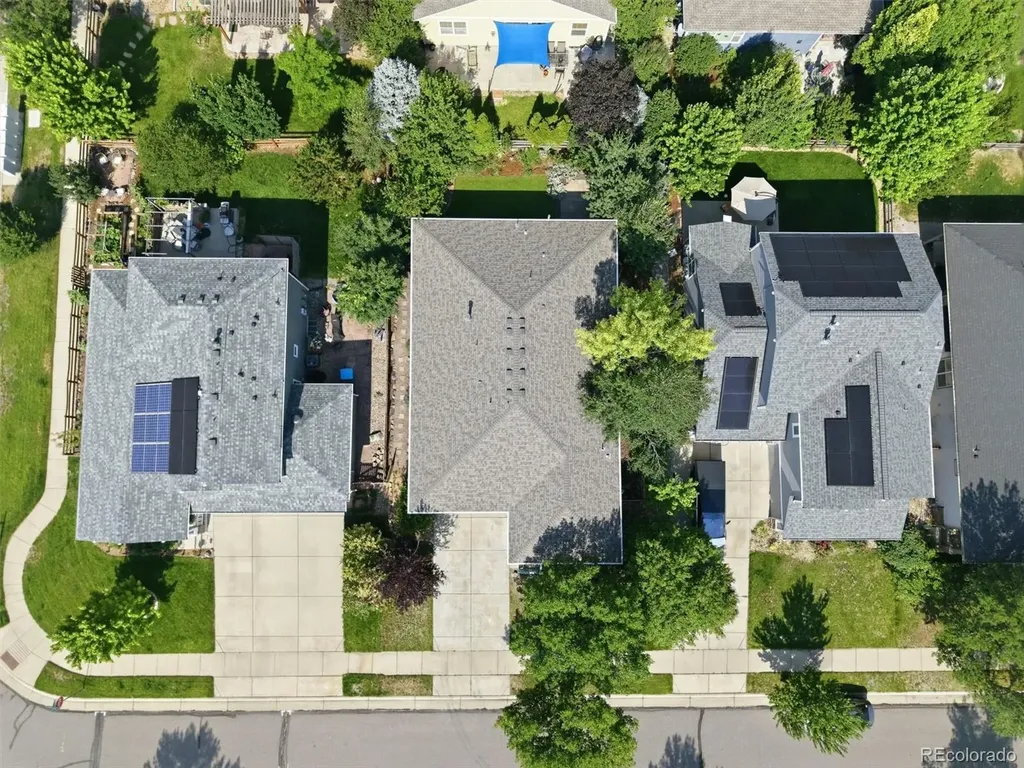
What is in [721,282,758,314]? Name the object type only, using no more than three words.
solar array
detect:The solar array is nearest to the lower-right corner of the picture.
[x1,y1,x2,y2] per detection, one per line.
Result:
[825,386,873,485]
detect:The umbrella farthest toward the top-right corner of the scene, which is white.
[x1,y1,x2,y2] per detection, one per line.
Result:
[731,177,779,221]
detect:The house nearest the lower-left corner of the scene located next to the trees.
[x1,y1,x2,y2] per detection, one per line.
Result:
[74,256,358,544]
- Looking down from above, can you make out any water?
No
